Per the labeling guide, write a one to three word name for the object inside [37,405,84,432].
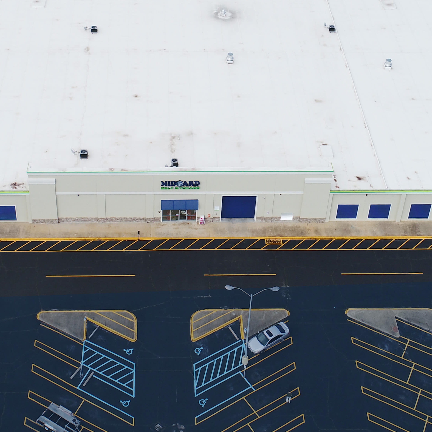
trailer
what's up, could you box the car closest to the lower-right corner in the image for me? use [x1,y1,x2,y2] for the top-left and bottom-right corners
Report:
[245,322,294,355]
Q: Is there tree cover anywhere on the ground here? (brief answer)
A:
No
